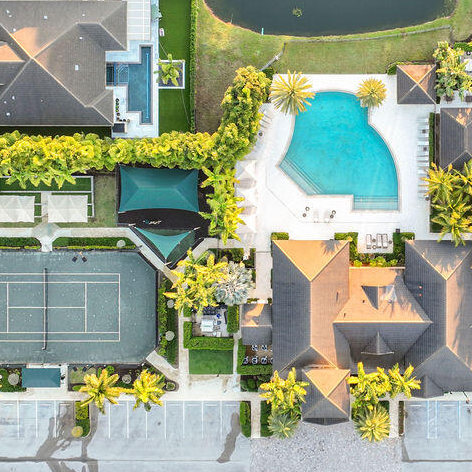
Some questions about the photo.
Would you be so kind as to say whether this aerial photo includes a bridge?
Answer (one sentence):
No, I can see no bridge in this picture.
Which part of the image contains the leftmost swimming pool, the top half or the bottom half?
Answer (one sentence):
It is in the top half that the leftmost swimming pool appears.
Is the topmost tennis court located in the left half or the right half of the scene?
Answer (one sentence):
You can find the topmost tennis court on the left side of the picture.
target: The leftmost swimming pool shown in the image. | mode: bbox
[109,45,152,125]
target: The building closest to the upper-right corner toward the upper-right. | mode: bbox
[396,64,436,104]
